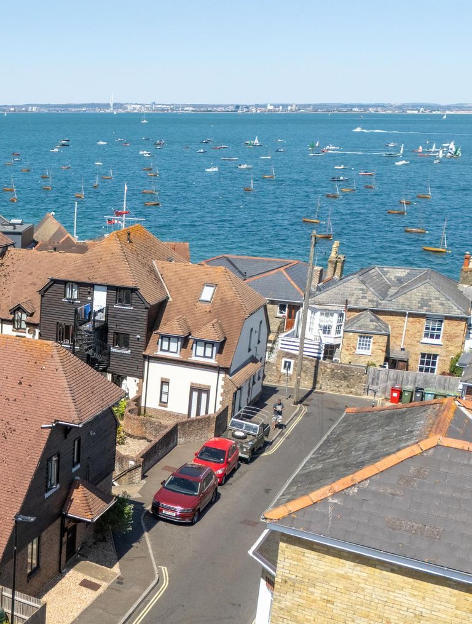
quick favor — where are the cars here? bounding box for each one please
[215,407,261,452]
[197,442,245,487]
[157,464,220,522]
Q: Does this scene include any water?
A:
Yes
